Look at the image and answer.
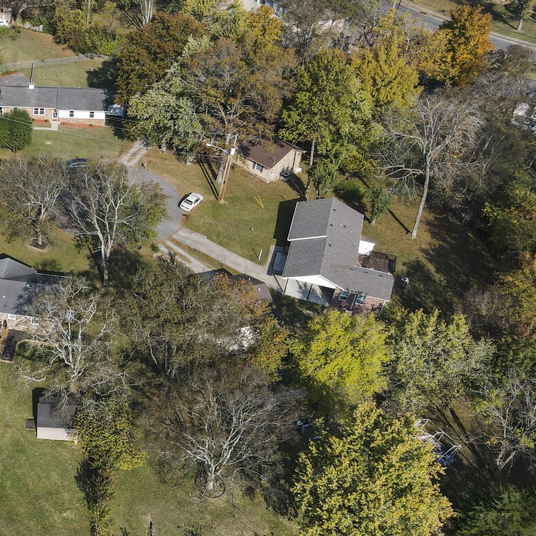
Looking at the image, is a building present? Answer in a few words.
Yes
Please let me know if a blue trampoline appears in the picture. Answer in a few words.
No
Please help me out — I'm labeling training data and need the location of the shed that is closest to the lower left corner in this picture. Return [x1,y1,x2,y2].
[25,395,76,442]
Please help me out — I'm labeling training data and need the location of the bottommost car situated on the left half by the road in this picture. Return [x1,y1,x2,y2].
[178,191,206,209]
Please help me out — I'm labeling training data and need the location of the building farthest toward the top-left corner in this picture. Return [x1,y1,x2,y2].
[0,53,113,125]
